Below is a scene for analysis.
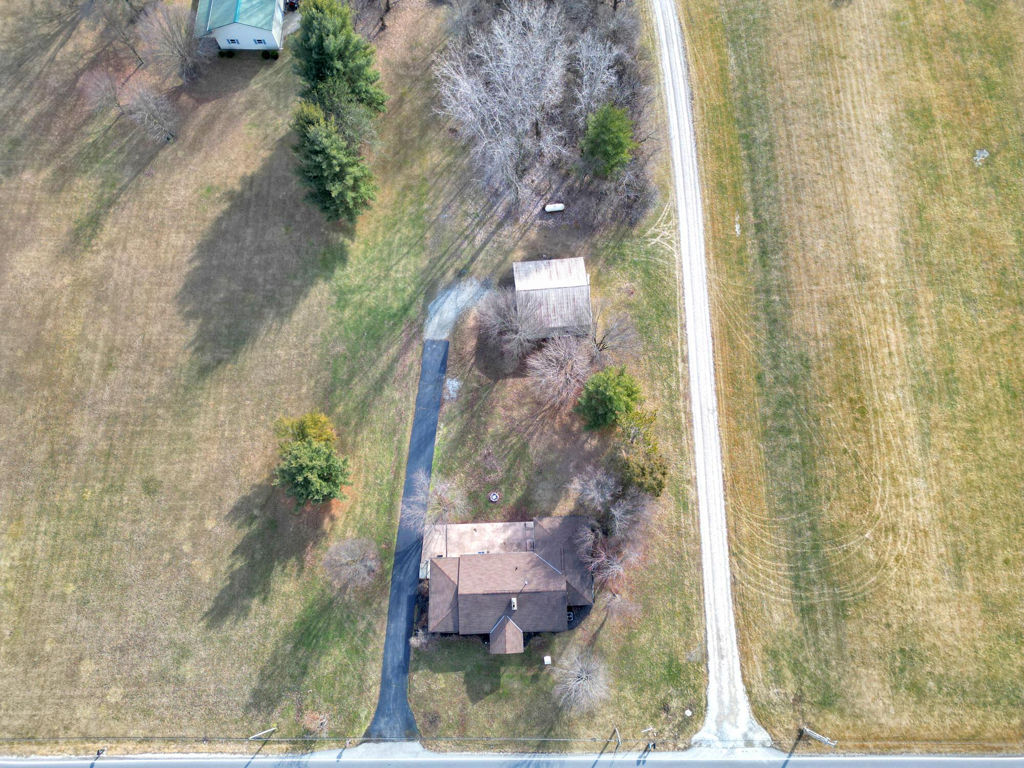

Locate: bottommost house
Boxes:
[428,515,594,654]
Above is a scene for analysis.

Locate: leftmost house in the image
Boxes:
[193,0,284,51]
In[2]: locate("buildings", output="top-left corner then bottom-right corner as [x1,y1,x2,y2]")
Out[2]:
[428,515,594,654]
[193,0,284,51]
[513,258,591,345]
